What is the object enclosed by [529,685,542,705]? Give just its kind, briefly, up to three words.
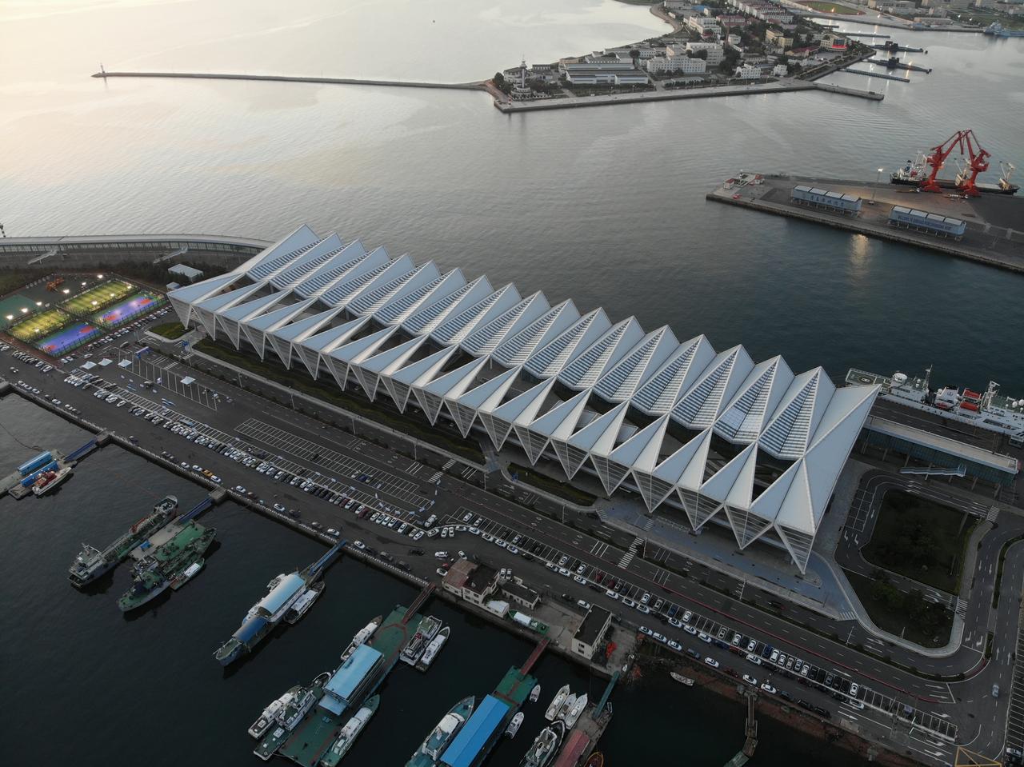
boat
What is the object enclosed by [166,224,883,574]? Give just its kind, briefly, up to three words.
building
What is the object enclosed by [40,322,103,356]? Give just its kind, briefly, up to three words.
basketball court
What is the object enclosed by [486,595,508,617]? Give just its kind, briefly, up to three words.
shed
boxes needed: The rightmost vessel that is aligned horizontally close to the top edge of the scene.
[983,20,1024,41]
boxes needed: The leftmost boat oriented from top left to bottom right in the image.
[508,606,550,640]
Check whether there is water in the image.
Yes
